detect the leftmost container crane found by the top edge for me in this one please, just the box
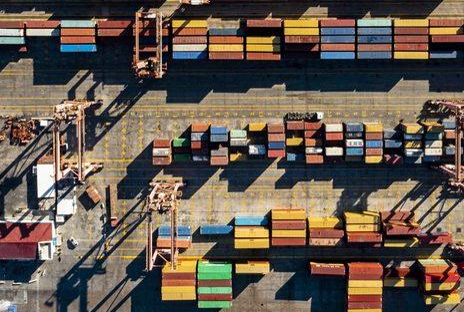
[131,11,180,82]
